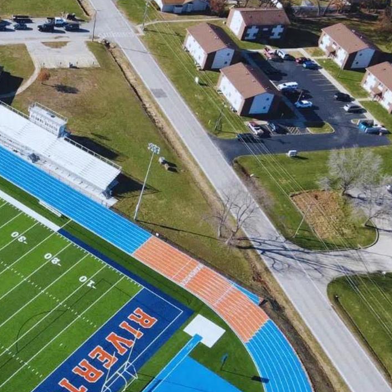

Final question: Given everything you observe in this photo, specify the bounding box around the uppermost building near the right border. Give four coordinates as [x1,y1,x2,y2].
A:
[317,23,381,69]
